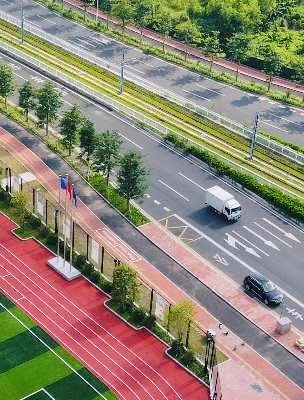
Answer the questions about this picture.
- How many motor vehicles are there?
2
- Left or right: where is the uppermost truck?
right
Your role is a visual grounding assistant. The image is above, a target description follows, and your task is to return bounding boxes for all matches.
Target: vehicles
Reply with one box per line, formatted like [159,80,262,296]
[196,179,241,219]
[242,271,283,303]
